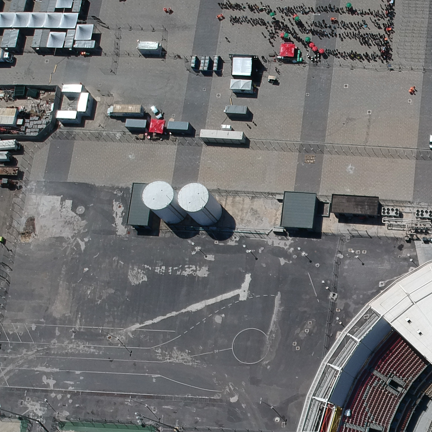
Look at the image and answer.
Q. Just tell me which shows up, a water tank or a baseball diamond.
water tank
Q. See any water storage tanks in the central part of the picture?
Yes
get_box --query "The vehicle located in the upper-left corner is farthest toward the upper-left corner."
[0,50,13,63]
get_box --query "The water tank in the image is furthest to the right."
[177,182,223,225]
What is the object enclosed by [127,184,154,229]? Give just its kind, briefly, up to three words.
building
